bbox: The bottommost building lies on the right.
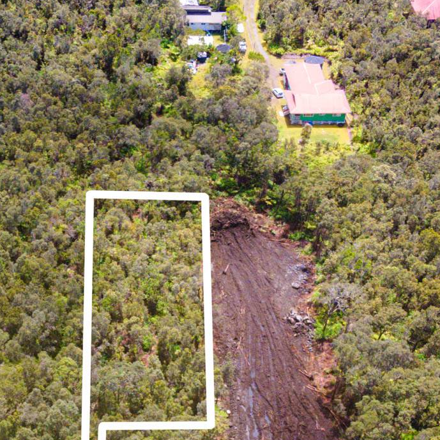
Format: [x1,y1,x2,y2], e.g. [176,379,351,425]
[282,58,352,128]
